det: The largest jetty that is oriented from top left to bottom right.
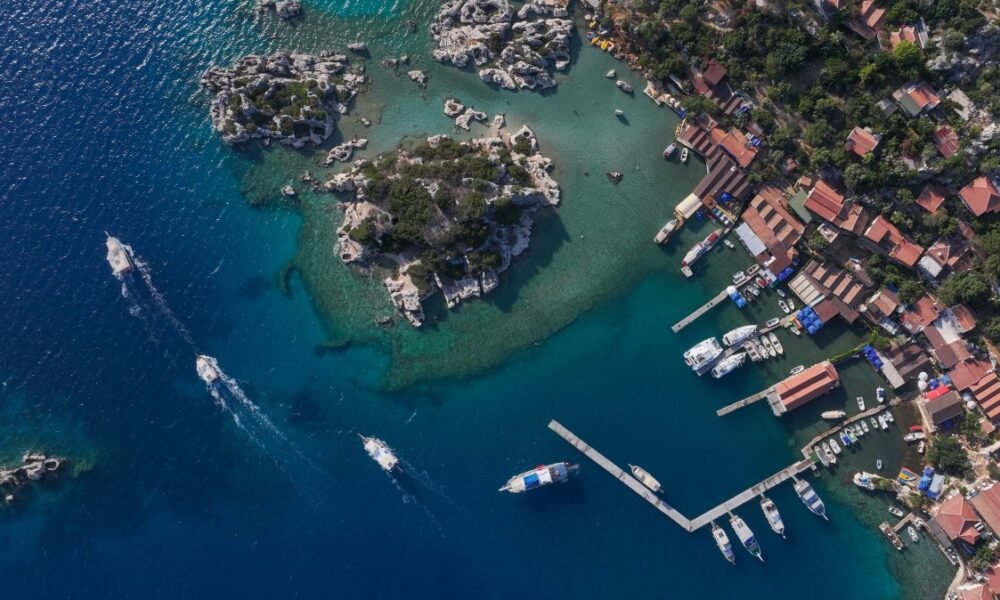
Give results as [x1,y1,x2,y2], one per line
[549,419,689,529]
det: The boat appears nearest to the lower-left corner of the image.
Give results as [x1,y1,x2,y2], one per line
[197,355,224,388]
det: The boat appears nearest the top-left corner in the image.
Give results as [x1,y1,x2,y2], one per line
[106,236,135,278]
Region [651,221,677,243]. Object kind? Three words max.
boat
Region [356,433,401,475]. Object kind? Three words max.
boat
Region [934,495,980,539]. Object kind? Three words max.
house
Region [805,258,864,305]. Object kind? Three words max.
building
